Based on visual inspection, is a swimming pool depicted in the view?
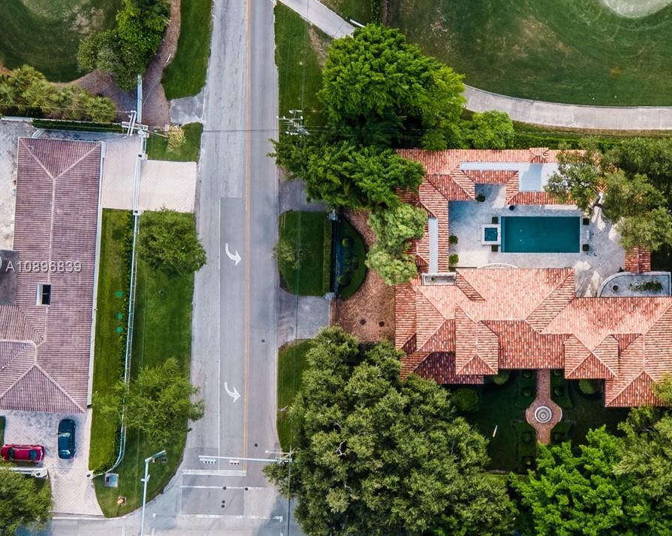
Yes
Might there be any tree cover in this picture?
Yes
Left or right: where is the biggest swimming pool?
right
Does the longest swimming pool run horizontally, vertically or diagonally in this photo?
horizontally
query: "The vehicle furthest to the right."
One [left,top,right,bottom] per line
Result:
[52,419,74,459]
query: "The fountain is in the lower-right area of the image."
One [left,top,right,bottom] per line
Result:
[534,405,552,424]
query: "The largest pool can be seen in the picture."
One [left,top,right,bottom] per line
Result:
[500,214,580,253]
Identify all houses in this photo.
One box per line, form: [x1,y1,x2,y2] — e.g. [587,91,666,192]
[395,148,672,408]
[0,138,110,412]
